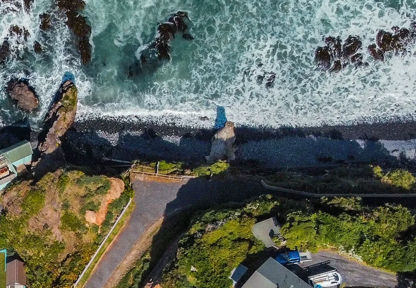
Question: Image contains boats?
No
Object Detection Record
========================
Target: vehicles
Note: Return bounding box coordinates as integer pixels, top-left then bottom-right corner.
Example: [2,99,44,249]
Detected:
[273,250,313,265]
[305,270,341,288]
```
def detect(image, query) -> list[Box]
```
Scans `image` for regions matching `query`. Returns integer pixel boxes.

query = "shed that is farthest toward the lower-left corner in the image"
[5,259,26,288]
